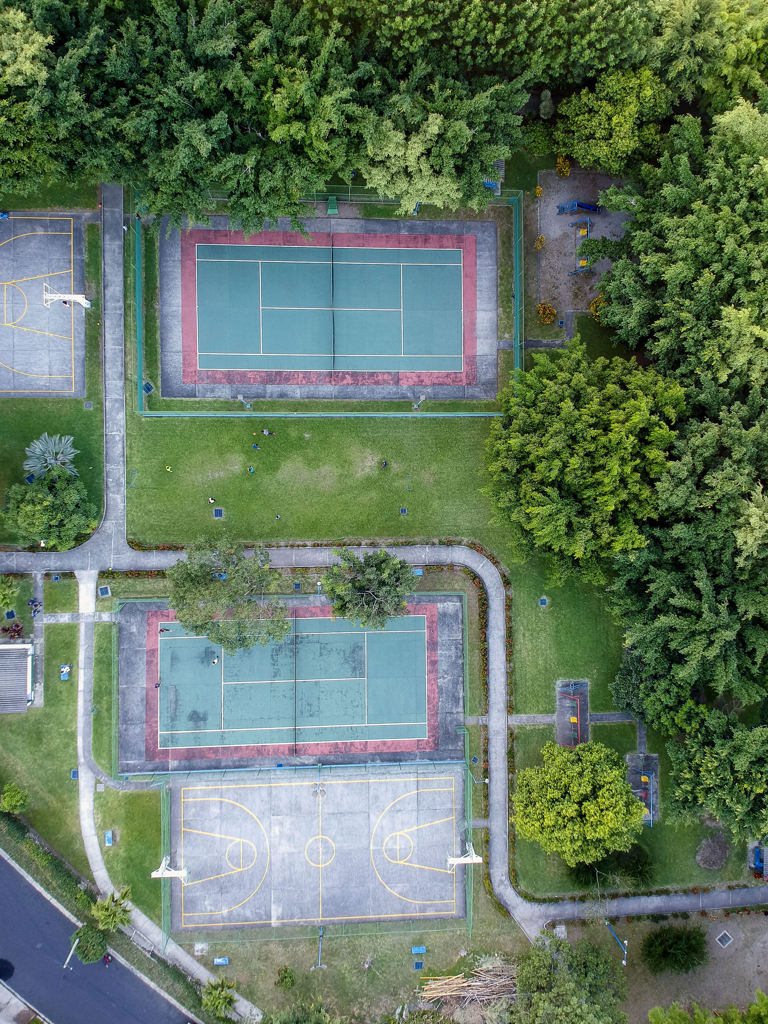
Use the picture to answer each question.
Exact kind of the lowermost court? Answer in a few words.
basketball court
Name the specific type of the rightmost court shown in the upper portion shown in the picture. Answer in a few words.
tennis court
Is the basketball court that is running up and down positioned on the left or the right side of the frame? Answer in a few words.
left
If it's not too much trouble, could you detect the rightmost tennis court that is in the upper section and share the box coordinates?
[159,216,497,399]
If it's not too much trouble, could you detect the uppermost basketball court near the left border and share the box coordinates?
[0,211,86,397]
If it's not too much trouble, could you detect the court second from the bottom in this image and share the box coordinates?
[118,596,465,775]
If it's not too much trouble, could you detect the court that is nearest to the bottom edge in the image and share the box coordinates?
[170,766,466,934]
